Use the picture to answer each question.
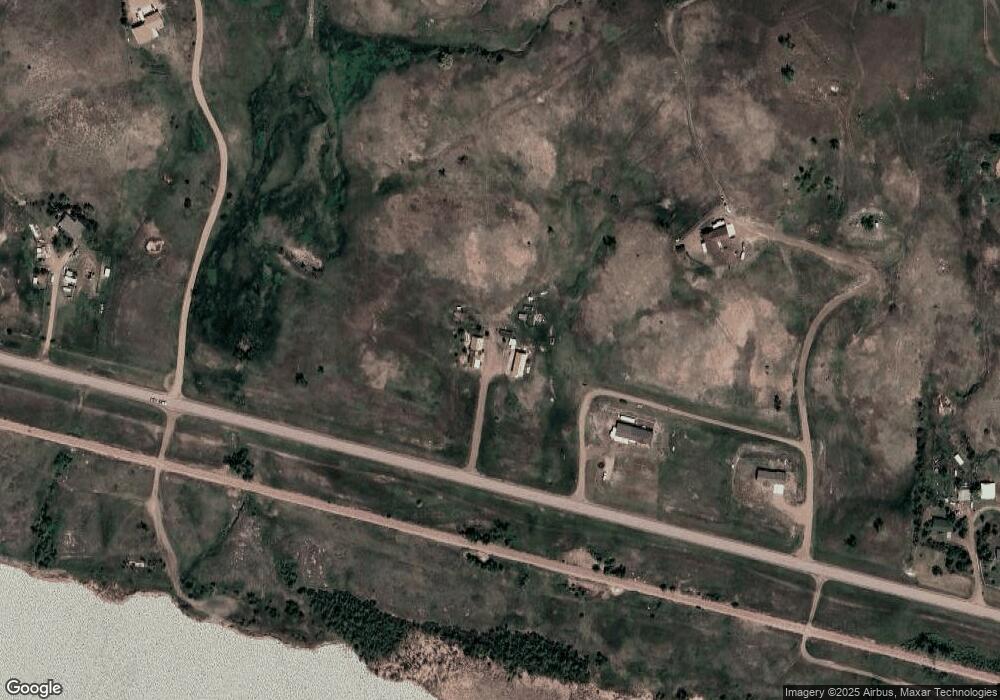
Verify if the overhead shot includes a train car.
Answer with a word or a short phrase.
No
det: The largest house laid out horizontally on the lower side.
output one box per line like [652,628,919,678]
[615,423,654,445]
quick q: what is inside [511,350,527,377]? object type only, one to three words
barn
